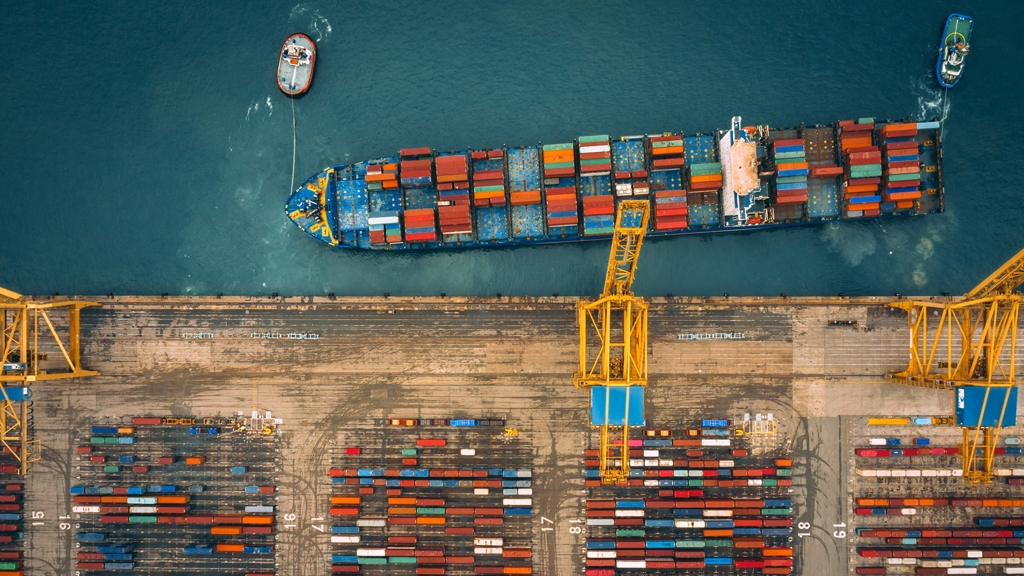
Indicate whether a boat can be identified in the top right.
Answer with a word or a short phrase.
Yes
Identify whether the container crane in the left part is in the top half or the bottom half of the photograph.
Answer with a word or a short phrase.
bottom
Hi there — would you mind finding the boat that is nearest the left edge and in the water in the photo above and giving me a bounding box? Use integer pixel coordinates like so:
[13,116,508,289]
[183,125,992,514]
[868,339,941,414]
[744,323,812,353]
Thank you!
[276,33,319,97]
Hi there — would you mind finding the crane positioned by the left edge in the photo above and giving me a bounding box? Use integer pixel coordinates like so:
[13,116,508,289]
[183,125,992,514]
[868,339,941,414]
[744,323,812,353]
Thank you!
[0,276,114,487]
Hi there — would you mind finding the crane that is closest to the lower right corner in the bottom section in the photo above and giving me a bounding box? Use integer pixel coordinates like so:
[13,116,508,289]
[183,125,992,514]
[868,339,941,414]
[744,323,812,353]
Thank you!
[880,244,1024,487]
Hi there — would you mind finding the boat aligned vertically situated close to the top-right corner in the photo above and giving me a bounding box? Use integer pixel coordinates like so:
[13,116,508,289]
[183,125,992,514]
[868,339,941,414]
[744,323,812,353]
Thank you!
[936,11,975,92]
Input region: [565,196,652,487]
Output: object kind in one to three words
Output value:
container crane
